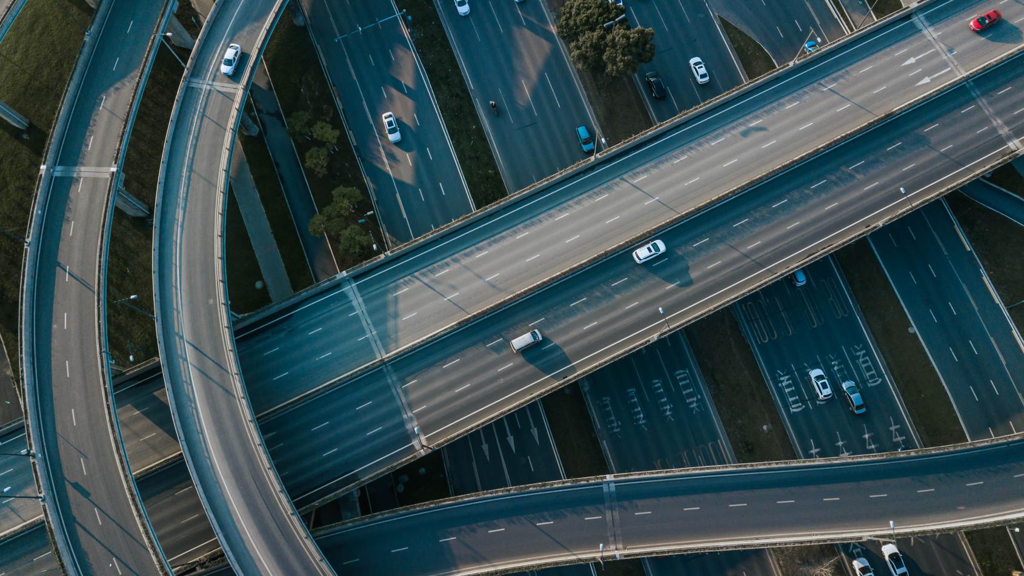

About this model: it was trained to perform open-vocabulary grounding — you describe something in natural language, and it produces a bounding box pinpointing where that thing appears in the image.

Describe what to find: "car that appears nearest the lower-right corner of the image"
[880,540,908,576]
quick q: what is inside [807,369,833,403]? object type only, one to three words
car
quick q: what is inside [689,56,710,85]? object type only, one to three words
car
